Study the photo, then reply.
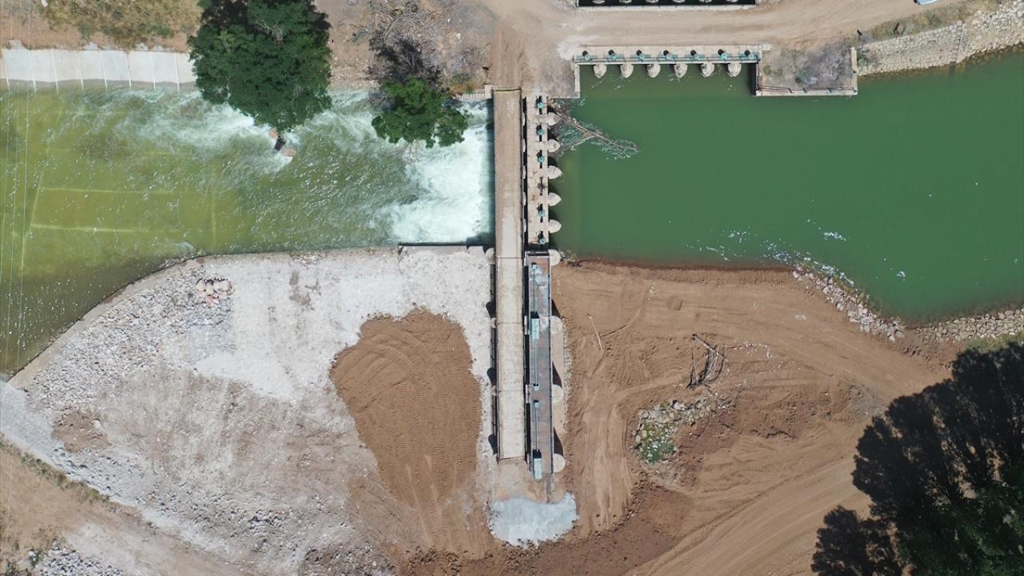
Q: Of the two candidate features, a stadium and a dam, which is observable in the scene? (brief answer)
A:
dam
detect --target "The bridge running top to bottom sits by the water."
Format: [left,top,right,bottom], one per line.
[490,87,526,460]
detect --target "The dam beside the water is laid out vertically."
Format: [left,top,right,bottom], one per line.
[488,94,565,478]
